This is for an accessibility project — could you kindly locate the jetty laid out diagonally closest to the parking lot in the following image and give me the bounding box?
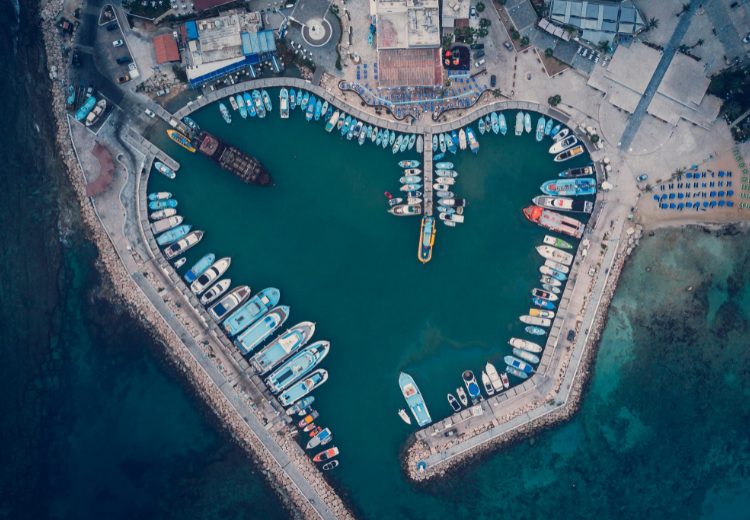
[130,88,199,143]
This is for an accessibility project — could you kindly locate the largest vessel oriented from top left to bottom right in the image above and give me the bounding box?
[193,130,272,185]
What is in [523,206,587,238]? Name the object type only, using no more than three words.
ship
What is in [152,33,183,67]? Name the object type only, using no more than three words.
house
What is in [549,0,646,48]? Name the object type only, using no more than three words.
building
